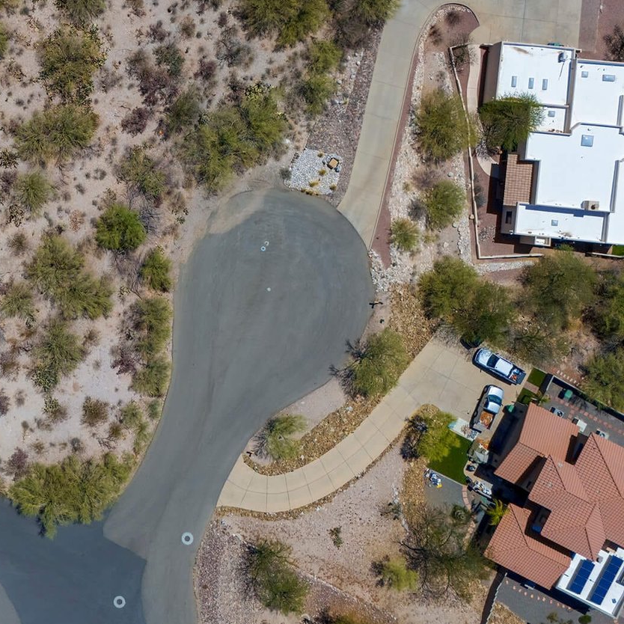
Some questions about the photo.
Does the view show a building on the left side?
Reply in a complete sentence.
No, on the left side there is no building.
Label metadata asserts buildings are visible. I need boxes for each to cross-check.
[478,398,624,617]
[480,42,624,248]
